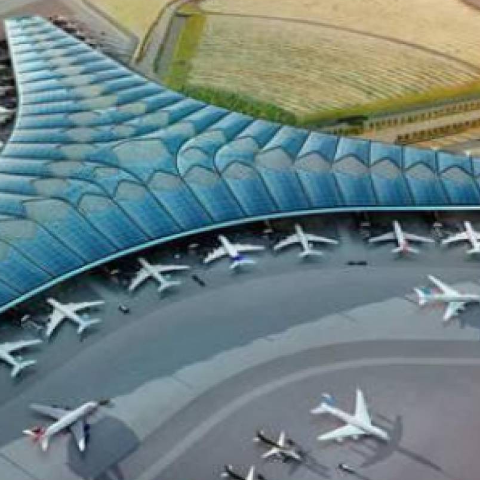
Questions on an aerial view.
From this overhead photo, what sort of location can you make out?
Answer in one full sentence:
The area seen from above is an airport.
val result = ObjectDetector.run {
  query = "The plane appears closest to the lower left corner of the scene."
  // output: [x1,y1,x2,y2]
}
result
[32,405,94,448]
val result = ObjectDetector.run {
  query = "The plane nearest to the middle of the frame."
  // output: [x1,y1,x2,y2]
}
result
[210,238,263,265]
